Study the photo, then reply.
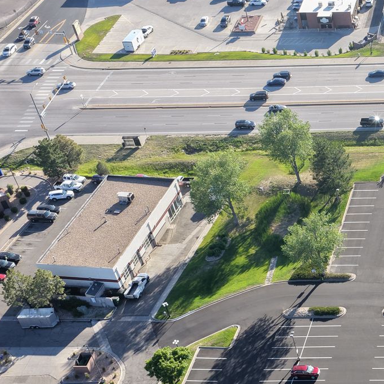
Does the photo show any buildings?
Yes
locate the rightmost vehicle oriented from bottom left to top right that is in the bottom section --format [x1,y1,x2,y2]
[121,274,151,298]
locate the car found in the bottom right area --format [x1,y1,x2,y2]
[289,365,320,378]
